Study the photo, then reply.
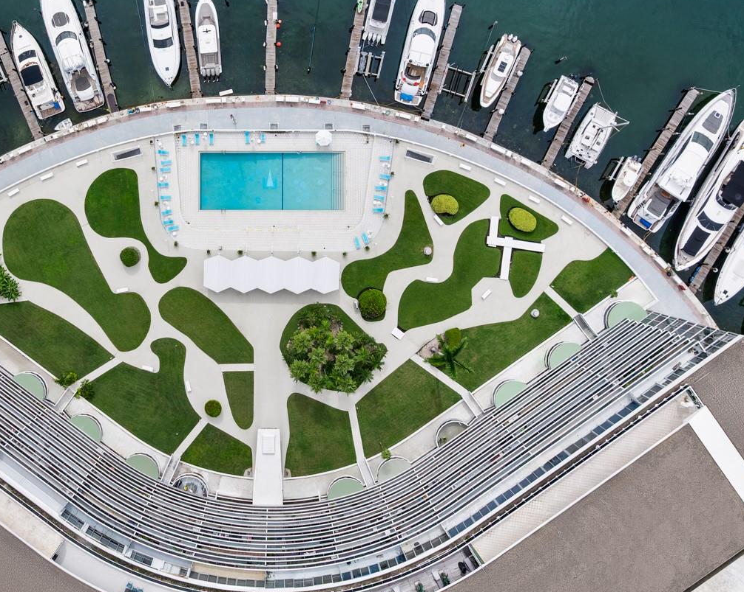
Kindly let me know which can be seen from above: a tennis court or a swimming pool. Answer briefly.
swimming pool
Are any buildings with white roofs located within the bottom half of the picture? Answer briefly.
Yes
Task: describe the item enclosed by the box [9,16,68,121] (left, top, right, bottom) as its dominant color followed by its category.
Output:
white boat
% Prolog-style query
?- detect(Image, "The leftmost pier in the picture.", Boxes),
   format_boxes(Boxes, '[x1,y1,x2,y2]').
[0,29,46,138]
